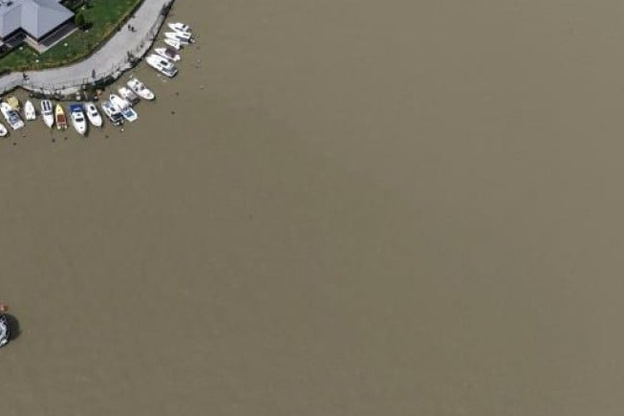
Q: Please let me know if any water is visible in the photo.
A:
Yes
